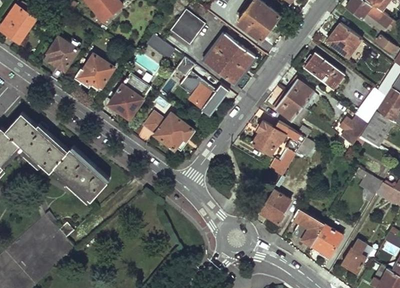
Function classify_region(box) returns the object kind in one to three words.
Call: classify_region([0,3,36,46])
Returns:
house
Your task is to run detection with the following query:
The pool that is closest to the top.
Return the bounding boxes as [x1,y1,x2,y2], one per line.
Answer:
[136,54,159,74]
